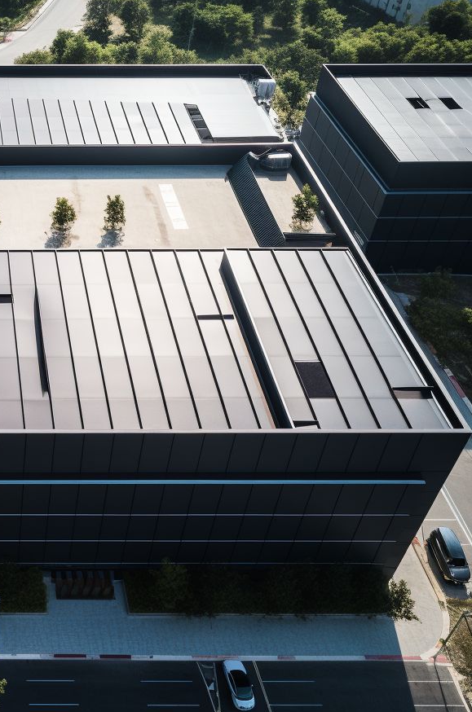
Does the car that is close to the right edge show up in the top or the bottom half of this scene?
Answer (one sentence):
Seen from above, the car that is close to the right edge lies in the bottom half of the view.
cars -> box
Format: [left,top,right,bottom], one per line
[218,661,257,712]
[420,531,470,588]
